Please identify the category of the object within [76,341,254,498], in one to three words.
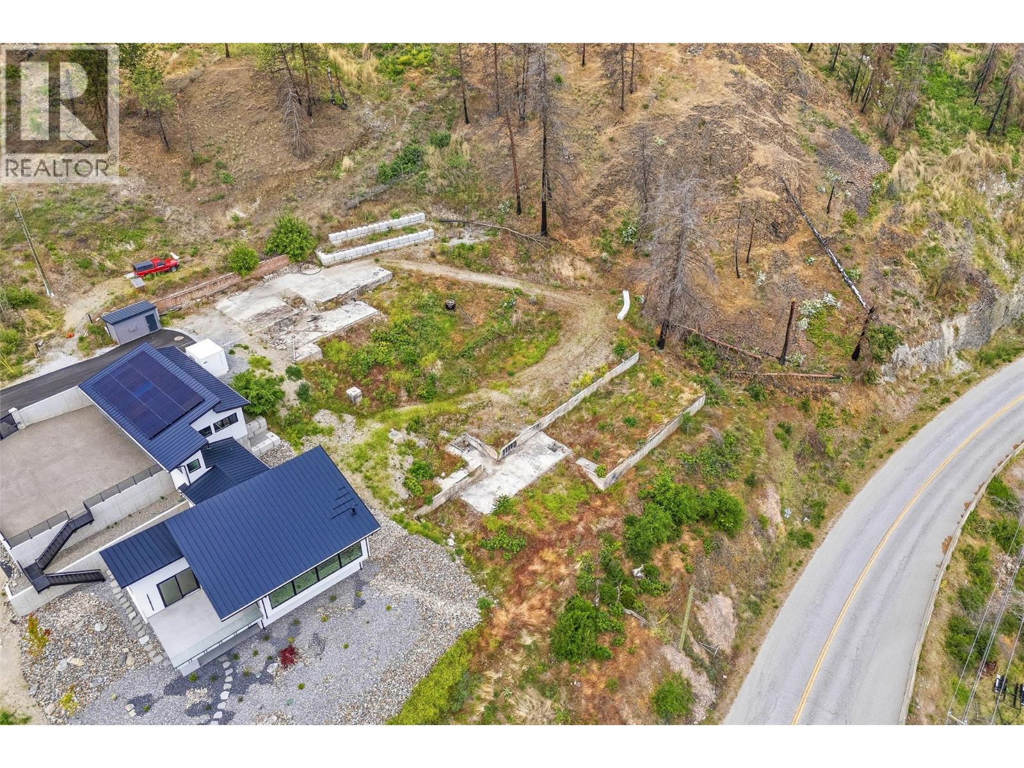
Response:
building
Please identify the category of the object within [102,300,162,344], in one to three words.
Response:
shed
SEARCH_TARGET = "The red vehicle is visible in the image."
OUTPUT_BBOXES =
[129,255,179,275]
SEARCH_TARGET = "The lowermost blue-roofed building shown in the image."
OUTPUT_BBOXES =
[97,439,381,678]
